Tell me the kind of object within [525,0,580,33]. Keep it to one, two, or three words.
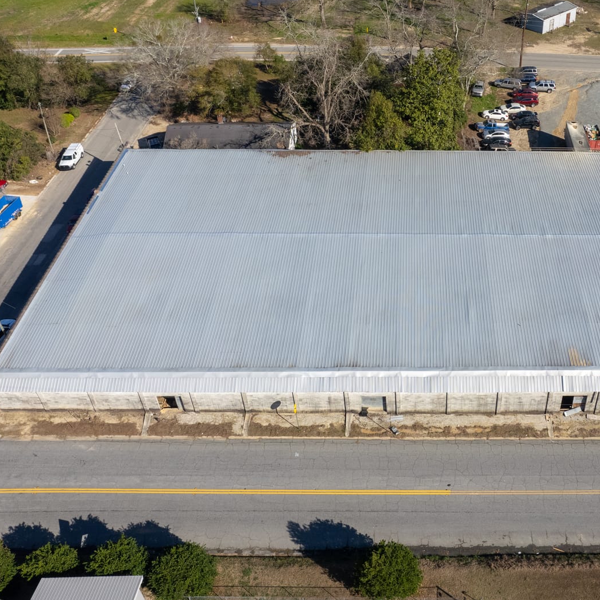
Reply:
shed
